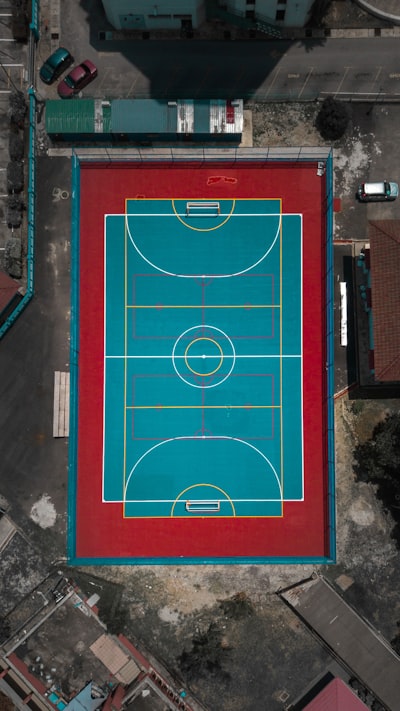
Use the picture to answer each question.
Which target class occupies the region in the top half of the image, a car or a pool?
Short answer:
car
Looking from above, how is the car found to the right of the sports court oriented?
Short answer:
from side to side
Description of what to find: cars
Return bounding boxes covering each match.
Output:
[39,46,76,86]
[58,59,99,99]
[358,181,399,201]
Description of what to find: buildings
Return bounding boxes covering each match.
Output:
[356,218,400,392]
[103,0,204,28]
[0,588,209,711]
[270,647,374,711]
[0,499,22,555]
[44,98,242,144]
[0,269,22,315]
[211,0,307,28]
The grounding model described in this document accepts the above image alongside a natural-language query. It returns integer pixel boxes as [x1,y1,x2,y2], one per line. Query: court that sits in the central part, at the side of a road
[76,162,329,556]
